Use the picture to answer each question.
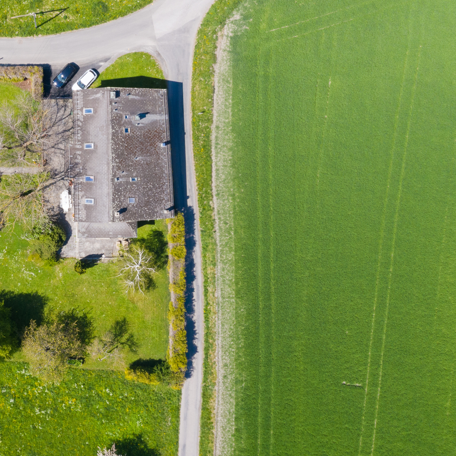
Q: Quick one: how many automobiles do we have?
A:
2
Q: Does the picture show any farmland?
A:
Yes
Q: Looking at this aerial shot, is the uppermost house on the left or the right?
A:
left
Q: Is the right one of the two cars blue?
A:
No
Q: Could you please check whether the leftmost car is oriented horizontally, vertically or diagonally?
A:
diagonally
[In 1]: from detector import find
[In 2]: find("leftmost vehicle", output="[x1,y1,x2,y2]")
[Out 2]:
[53,62,77,89]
